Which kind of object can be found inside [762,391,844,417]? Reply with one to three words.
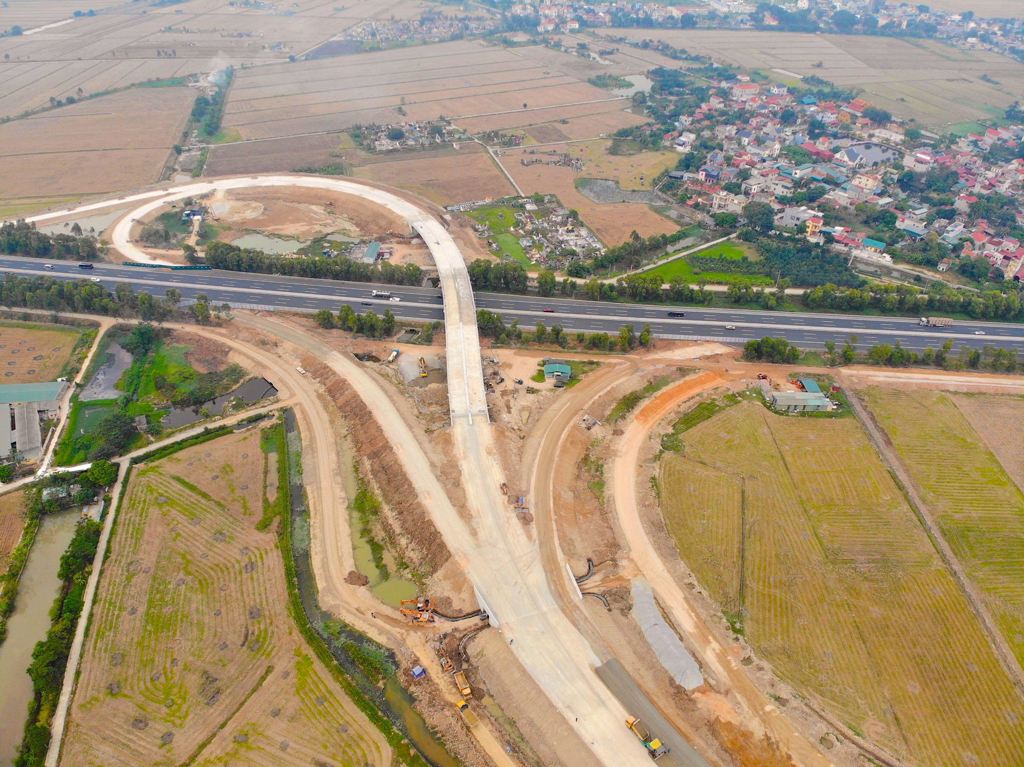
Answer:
building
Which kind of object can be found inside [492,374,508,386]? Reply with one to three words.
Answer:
vehicle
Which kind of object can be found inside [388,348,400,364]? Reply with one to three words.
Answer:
vehicle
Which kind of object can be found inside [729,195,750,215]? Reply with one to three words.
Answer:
house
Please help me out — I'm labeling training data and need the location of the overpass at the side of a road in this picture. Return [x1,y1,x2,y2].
[399,212,493,439]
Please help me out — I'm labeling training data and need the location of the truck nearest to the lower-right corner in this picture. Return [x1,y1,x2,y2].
[622,709,654,749]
